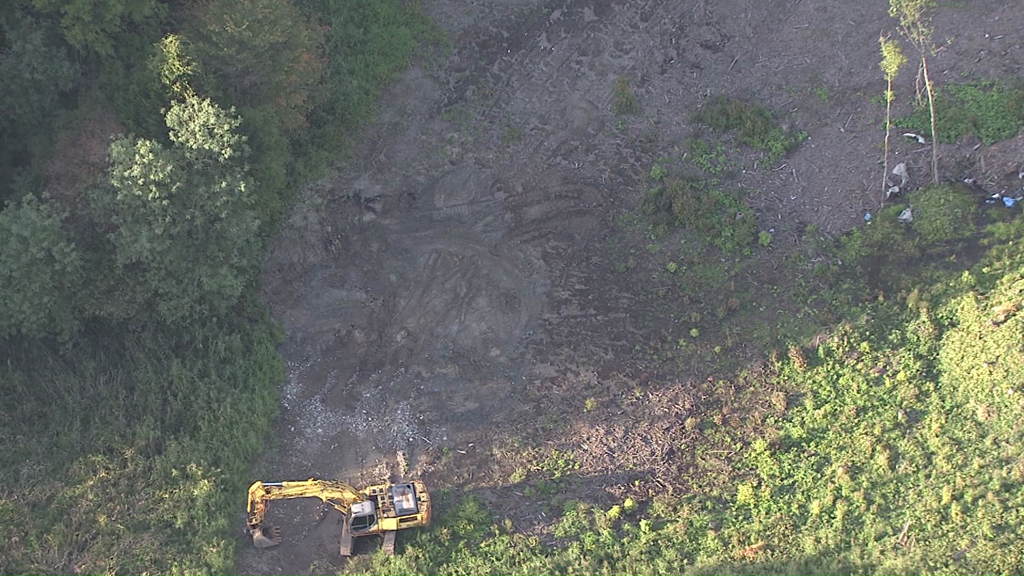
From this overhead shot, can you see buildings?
No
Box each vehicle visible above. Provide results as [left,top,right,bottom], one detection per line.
[248,474,431,556]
